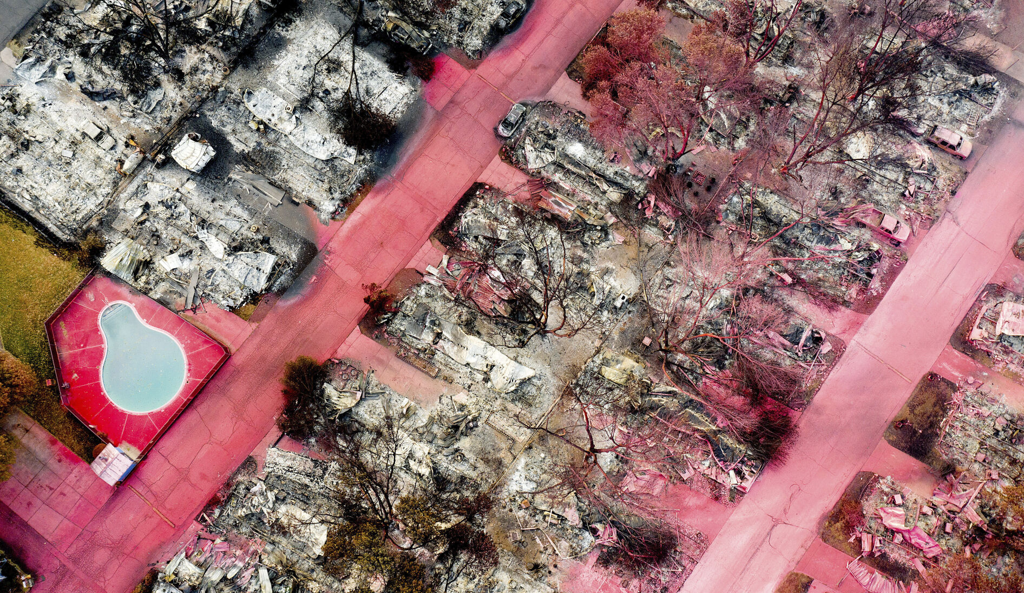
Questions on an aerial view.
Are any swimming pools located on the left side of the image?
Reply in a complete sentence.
Yes, I can see a swimming pool on the left side of the image.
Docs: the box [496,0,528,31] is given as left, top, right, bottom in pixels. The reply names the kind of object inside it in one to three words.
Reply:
car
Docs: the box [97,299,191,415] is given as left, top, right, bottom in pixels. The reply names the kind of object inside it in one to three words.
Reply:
swimming pool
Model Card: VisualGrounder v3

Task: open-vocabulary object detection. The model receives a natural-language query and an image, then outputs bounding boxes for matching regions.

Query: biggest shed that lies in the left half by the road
[91,441,145,486]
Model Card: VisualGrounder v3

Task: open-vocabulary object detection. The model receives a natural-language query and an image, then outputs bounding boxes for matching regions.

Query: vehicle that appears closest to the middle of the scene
[497,100,527,140]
